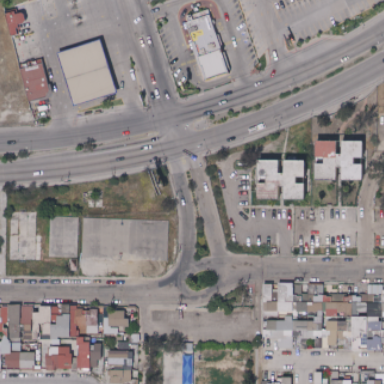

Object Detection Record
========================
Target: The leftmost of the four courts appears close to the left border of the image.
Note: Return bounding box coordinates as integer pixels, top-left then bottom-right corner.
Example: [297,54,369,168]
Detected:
[10,211,41,260]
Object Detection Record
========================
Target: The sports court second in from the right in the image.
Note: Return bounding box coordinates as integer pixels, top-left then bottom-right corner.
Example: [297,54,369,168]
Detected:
[82,218,130,258]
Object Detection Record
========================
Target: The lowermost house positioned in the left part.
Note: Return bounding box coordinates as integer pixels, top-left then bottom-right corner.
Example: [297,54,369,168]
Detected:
[108,368,138,383]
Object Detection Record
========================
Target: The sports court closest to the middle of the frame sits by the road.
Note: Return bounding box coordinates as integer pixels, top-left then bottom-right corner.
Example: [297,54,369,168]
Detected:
[130,219,168,260]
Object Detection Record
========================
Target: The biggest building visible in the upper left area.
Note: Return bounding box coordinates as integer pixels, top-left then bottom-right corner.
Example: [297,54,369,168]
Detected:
[58,39,116,105]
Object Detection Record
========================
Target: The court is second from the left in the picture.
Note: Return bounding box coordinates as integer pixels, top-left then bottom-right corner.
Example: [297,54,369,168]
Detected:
[49,216,78,257]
